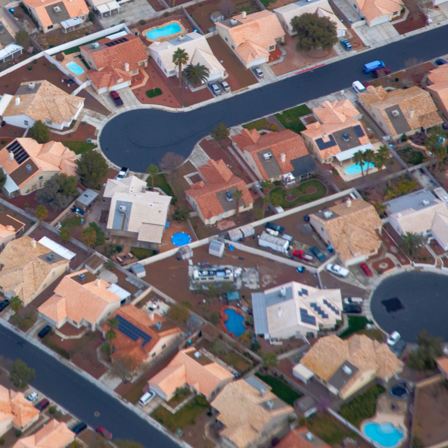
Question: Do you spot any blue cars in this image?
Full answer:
Yes, looking at the shot, I can spot a blue car.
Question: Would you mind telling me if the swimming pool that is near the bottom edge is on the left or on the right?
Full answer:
It is on the right.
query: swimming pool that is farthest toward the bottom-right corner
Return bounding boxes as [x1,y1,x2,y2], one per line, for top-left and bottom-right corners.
[361,421,405,448]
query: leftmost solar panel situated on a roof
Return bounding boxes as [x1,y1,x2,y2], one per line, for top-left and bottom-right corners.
[6,141,30,164]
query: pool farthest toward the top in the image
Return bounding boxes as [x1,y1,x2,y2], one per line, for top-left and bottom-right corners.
[144,21,183,40]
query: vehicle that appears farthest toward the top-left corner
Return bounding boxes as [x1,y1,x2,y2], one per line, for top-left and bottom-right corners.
[108,90,126,107]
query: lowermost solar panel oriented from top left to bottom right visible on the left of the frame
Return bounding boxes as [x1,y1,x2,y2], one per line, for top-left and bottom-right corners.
[117,316,152,342]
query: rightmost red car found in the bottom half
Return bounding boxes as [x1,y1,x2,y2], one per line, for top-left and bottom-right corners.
[357,262,375,277]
